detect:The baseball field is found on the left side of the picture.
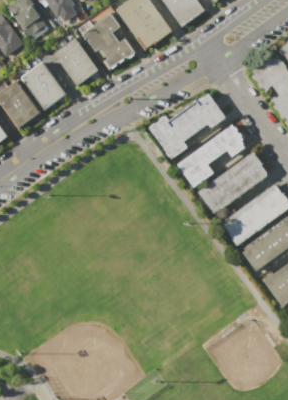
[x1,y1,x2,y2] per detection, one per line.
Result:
[26,322,146,400]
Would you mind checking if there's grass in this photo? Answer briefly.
Yes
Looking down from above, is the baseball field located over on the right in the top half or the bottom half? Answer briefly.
bottom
